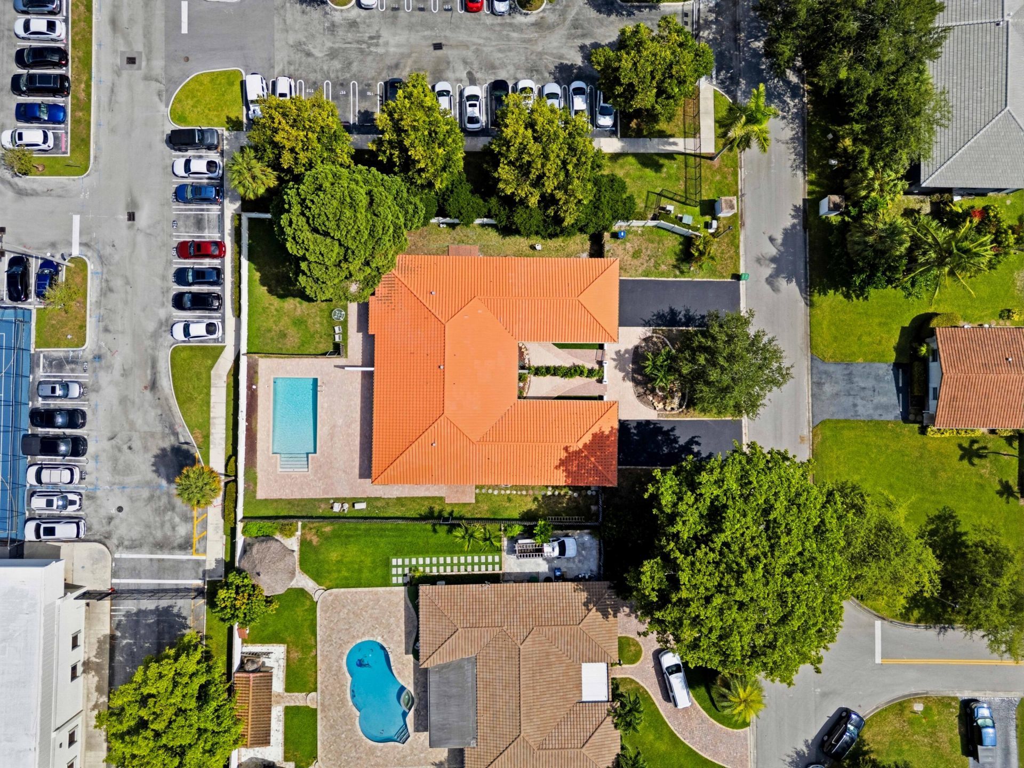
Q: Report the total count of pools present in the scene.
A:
two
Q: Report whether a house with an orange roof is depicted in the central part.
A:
Yes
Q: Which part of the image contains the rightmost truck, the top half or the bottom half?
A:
bottom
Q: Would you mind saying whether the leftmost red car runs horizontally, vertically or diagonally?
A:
horizontally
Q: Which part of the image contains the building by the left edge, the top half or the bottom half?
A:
bottom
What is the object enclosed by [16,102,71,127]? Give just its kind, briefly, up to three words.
car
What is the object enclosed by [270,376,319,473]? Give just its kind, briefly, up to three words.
swimming pool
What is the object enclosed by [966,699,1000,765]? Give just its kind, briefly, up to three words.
truck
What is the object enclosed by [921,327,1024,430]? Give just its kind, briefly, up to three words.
house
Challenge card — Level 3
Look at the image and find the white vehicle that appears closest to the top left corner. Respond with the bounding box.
[17,19,70,46]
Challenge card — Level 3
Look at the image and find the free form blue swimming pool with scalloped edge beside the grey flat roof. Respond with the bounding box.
[344,638,416,745]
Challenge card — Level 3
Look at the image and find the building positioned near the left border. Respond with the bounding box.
[0,559,88,768]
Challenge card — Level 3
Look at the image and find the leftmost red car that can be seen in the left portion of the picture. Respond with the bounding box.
[178,238,229,261]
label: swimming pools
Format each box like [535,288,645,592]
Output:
[270,376,319,473]
[344,638,416,745]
